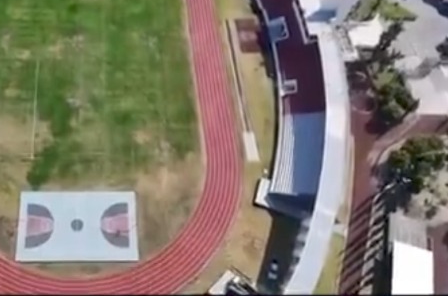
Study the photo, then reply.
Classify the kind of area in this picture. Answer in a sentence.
It's a sports ground.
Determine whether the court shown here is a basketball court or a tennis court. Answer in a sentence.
It turns out the court is a basketball court.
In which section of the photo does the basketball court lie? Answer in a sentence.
The basketball court is located in the bottom left region of the scene.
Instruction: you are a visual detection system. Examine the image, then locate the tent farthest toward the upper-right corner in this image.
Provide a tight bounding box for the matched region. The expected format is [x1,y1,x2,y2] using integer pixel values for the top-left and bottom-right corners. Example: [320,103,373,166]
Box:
[348,14,382,48]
